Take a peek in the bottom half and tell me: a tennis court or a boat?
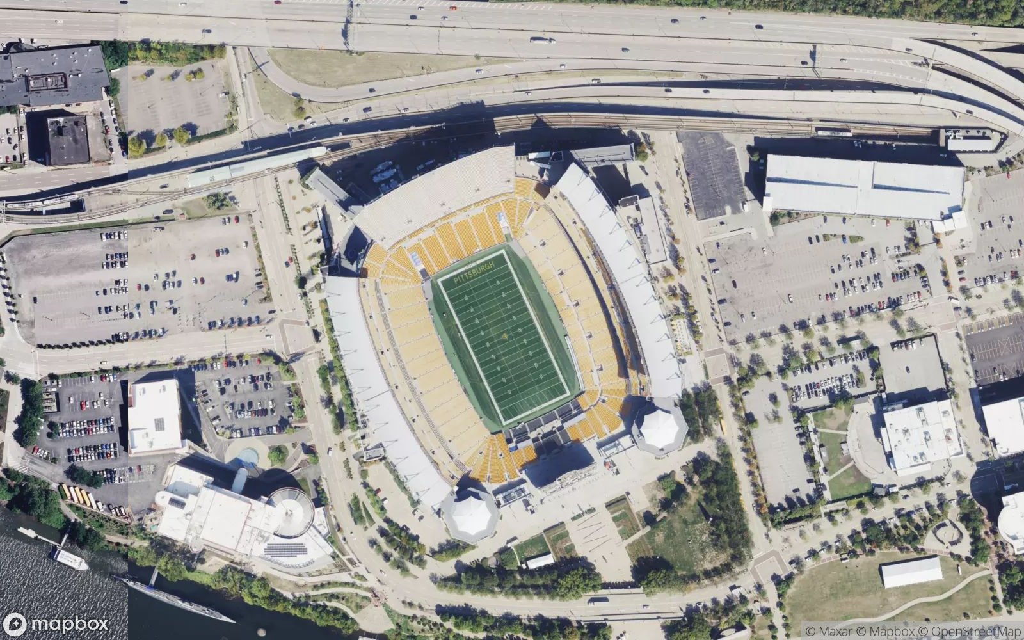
boat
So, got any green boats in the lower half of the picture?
No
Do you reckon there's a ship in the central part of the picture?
No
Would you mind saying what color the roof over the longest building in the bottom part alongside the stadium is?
white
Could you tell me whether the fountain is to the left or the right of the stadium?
to the left of it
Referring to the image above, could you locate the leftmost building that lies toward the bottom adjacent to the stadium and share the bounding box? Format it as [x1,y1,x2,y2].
[155,465,334,571]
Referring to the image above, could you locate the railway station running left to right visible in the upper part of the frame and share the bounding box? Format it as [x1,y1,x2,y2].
[86,147,328,209]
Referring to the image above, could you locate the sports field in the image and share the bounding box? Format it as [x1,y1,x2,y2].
[422,240,583,433]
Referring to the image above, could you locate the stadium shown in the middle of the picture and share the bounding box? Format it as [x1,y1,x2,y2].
[300,145,689,543]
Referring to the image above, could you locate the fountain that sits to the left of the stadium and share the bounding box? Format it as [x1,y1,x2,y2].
[234,445,257,468]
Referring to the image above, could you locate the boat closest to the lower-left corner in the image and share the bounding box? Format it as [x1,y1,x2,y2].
[48,546,88,570]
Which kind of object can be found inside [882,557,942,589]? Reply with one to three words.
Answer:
tent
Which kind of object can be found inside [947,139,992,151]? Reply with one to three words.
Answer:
building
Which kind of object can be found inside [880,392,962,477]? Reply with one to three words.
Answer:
building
